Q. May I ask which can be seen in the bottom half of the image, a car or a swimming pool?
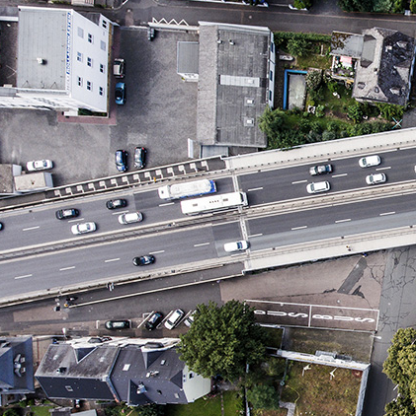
car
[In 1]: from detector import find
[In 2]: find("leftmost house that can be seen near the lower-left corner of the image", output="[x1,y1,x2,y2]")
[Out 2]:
[0,328,61,408]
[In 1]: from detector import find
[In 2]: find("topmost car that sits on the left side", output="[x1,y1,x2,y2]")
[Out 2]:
[113,58,126,78]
